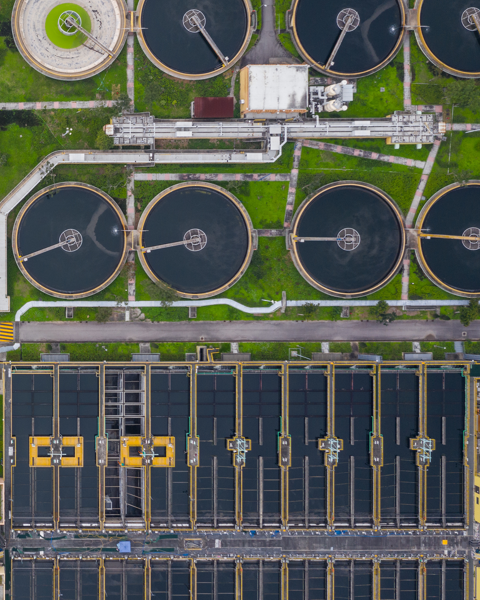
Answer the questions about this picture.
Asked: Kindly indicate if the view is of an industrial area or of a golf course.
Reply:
industrial area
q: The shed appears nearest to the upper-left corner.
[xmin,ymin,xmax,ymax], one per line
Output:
[190,97,234,119]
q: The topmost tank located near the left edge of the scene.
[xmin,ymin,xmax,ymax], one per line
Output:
[10,0,129,82]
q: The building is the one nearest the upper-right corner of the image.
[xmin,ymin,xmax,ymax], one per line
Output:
[241,63,308,117]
